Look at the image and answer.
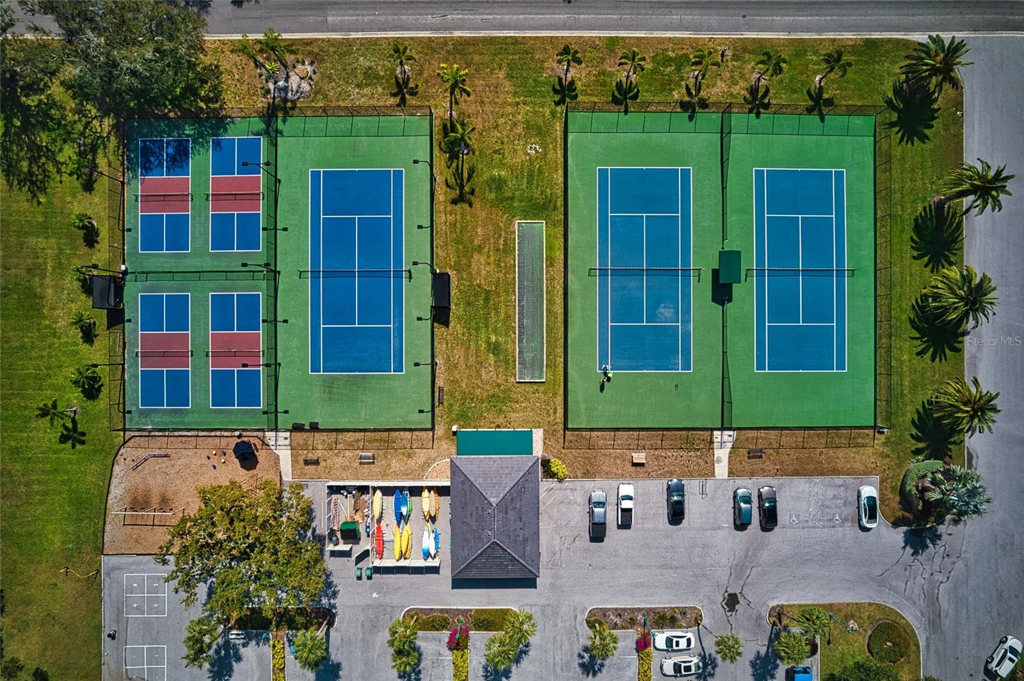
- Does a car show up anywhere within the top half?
No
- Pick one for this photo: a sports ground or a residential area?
sports ground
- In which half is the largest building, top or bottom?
bottom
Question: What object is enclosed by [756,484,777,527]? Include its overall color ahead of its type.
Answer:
black car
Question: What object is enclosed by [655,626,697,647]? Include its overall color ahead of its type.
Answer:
white car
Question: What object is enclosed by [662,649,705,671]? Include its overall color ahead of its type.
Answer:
white car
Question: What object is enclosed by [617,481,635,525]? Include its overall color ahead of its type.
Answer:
white vehicle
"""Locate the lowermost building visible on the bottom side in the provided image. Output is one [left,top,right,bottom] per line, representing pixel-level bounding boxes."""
[450,455,540,578]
